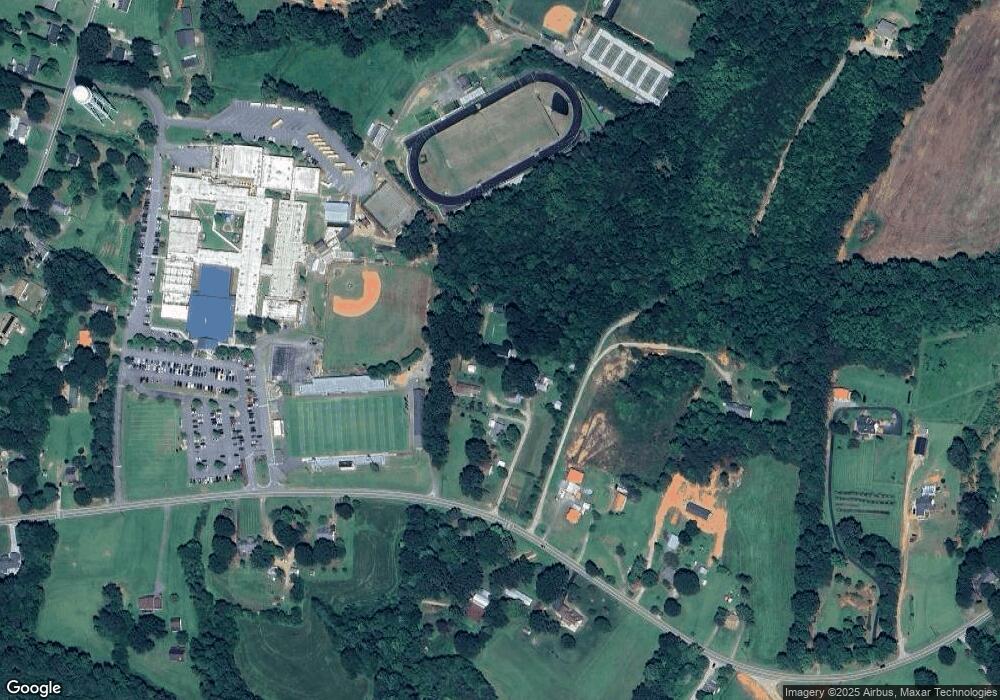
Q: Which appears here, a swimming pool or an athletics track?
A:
athletics track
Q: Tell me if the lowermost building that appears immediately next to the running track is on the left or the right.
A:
left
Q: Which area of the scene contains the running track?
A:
top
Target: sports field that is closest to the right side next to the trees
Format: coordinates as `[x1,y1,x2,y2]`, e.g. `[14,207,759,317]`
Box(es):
[616,0,697,55]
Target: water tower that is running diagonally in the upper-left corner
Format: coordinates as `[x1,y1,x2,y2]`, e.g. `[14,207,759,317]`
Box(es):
[67,81,119,127]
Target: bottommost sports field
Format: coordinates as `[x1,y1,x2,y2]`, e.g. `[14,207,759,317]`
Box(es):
[286,393,411,459]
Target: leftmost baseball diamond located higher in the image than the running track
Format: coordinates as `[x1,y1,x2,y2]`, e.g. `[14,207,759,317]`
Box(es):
[511,0,589,37]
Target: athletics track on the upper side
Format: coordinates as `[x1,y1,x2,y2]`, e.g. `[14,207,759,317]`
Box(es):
[402,72,583,205]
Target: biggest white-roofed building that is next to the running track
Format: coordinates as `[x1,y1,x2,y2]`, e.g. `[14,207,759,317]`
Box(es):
[160,144,323,350]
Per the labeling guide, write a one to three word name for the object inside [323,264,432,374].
baseball field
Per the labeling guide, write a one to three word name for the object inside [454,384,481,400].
house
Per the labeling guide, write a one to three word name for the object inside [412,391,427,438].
building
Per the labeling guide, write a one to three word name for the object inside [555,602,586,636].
house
